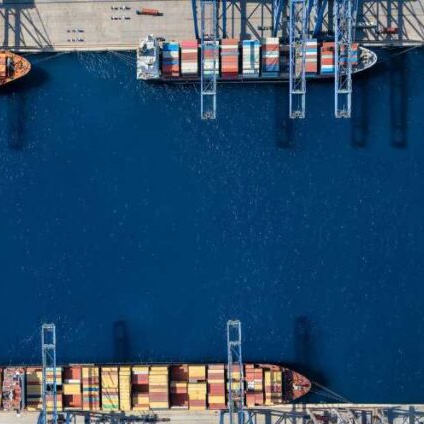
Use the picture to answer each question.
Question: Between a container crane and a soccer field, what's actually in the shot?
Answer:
container crane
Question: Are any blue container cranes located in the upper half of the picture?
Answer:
Yes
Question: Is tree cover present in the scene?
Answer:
No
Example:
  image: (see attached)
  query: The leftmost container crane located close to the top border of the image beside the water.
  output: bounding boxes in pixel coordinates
[178,0,226,119]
